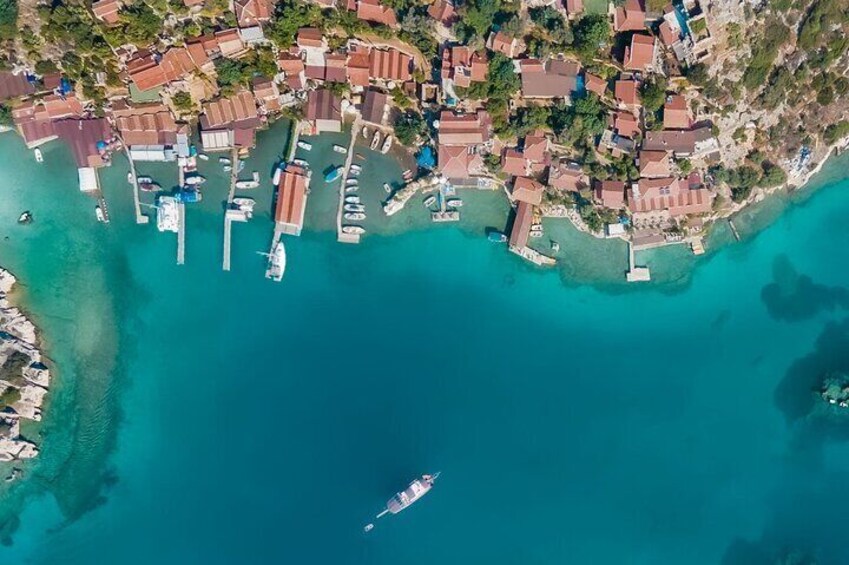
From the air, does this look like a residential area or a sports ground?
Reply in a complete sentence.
This looks like a residential area.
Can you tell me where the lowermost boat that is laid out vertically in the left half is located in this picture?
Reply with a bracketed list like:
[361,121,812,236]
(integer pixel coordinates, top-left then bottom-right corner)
[263,240,284,284]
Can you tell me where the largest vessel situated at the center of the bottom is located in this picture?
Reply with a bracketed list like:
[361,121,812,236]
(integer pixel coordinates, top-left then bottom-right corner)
[378,475,441,519]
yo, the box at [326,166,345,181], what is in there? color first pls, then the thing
blue boat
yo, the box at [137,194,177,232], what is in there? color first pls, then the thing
white boat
